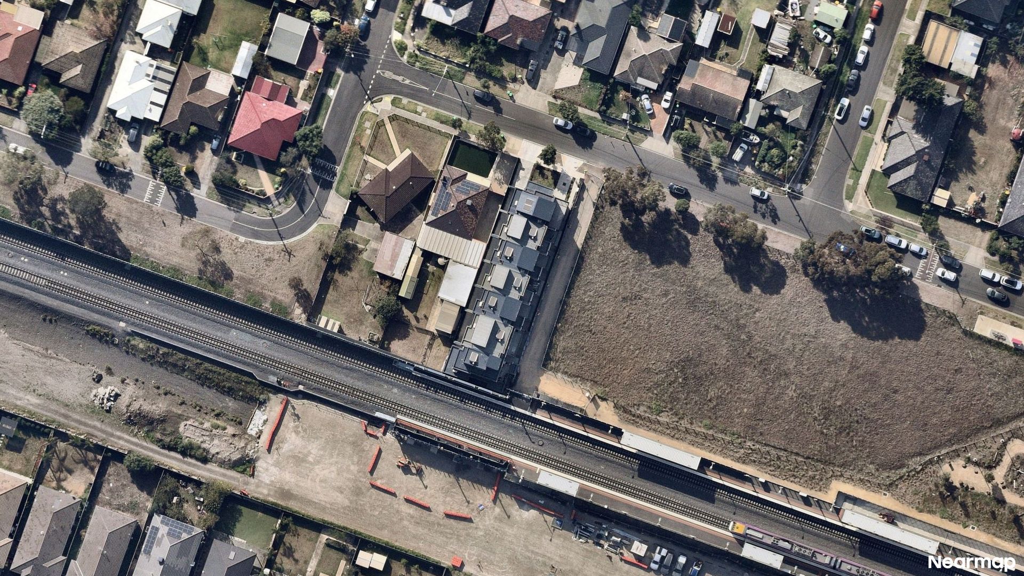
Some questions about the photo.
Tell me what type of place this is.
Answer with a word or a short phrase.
residential area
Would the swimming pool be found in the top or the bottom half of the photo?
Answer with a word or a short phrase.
top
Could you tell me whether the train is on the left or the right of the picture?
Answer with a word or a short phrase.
right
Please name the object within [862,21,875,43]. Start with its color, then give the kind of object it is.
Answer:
white vehicle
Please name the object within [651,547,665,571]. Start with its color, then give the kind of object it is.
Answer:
white car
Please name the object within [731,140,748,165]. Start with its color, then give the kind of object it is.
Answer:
white car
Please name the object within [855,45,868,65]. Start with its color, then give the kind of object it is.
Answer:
white vehicle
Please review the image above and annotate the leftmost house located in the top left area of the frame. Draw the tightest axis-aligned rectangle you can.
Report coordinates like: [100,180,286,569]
[0,10,44,86]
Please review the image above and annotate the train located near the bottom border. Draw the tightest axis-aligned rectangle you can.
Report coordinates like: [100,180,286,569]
[729,519,894,576]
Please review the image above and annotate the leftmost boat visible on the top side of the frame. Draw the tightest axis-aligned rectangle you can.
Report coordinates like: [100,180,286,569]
[739,130,763,142]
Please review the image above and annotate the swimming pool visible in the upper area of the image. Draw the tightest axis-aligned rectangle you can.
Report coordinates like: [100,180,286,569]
[446,139,500,179]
